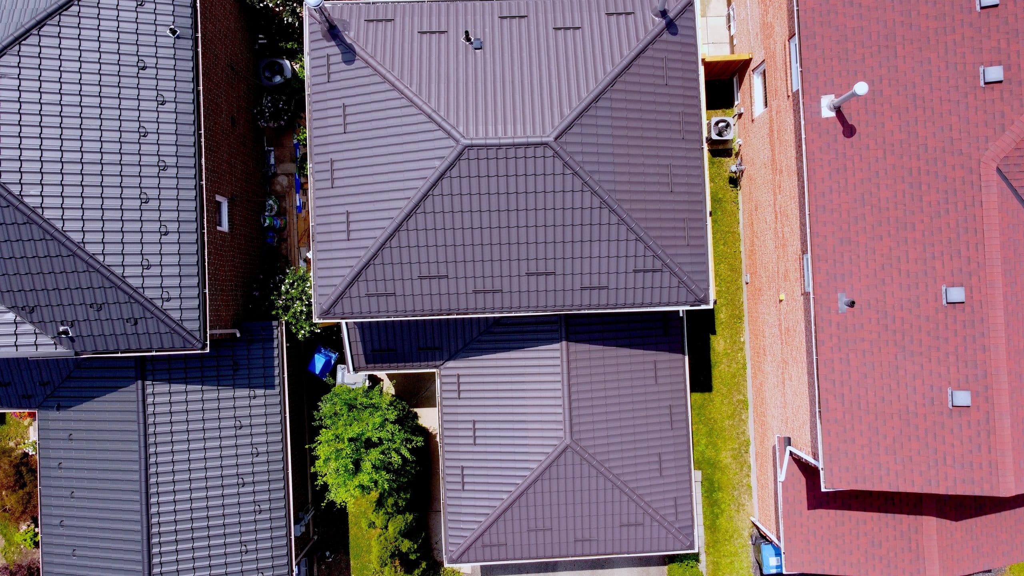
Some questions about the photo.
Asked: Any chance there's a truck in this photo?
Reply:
No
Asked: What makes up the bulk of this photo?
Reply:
buildings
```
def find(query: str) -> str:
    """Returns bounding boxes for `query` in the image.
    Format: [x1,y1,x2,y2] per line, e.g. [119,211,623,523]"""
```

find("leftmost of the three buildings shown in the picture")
[0,0,319,576]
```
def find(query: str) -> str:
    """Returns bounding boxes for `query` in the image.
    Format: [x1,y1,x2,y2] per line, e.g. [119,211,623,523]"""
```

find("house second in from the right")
[303,0,711,566]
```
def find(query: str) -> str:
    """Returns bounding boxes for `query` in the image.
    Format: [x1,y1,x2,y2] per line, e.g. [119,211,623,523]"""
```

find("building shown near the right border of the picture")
[724,0,1024,576]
